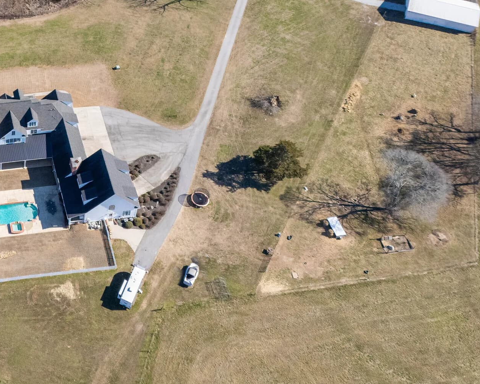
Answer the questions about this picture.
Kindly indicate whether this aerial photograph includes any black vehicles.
No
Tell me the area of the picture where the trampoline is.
center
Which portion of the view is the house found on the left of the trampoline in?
left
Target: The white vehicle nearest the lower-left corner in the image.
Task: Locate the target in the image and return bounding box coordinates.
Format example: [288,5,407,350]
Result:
[115,266,147,312]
